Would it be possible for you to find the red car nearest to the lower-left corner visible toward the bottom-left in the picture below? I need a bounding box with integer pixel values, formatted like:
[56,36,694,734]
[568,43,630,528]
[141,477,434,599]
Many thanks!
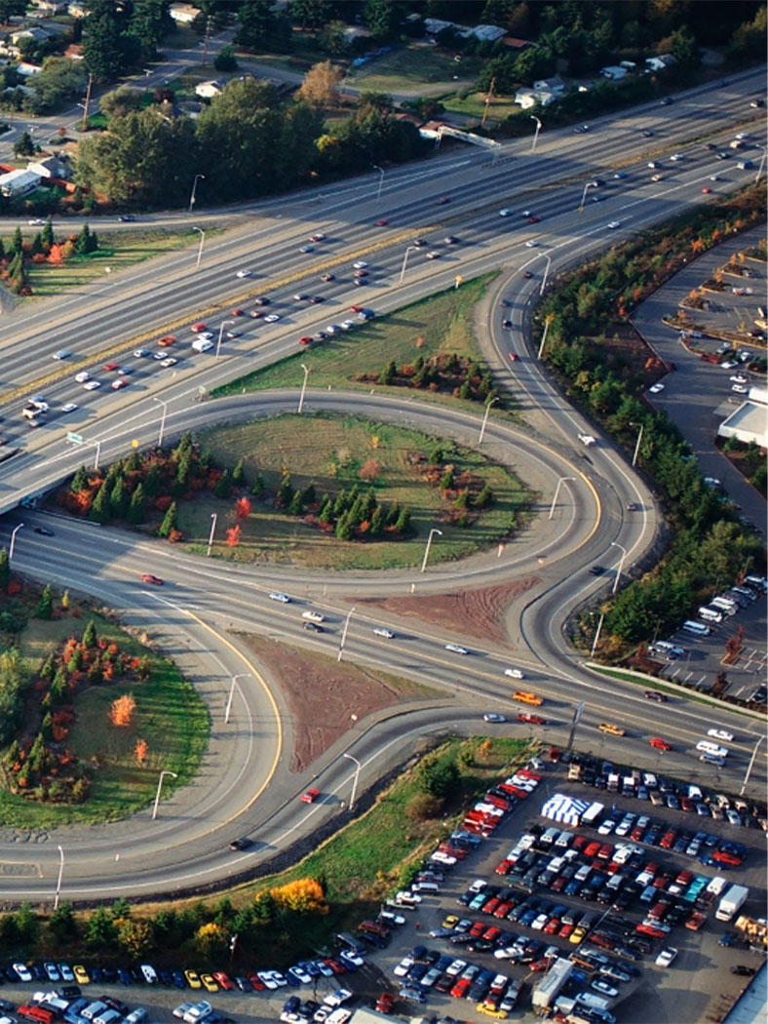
[21,1007,49,1023]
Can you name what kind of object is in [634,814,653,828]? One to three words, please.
car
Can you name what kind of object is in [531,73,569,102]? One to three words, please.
house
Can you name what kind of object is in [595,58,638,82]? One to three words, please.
house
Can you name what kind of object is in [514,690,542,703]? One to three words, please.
vehicle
